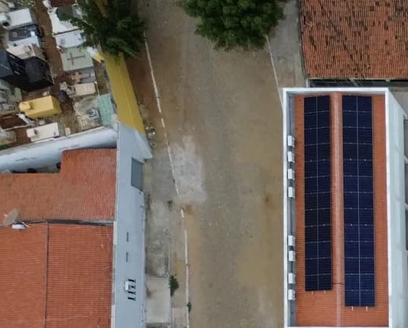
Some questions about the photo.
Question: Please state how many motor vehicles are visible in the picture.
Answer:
0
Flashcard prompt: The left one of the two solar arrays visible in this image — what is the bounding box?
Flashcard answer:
[305,93,333,290]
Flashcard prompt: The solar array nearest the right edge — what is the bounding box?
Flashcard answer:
[343,93,374,311]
